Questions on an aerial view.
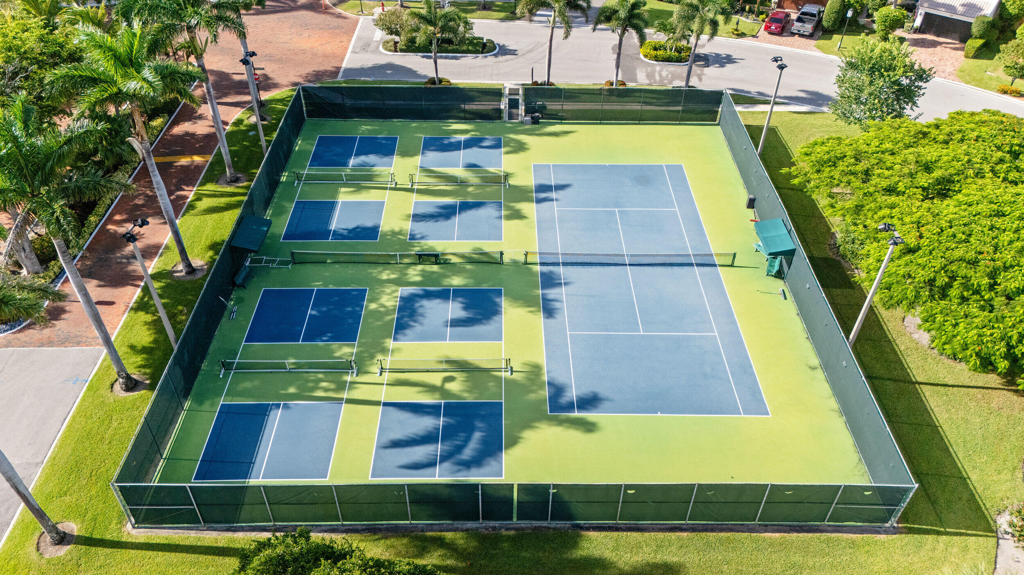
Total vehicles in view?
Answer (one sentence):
Altogether the scene contains 2 vehicles.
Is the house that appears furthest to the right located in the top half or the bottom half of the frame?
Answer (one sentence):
The top half of the photo is where the house that appears furthest to the right is.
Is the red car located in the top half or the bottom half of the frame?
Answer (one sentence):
The red car is in the top half of the image.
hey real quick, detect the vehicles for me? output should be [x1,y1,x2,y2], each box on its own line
[793,5,826,35]
[765,10,791,32]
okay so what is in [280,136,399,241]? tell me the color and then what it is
blue sports court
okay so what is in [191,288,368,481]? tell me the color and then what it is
blue sports court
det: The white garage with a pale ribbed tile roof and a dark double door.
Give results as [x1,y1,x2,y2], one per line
[917,0,1004,42]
